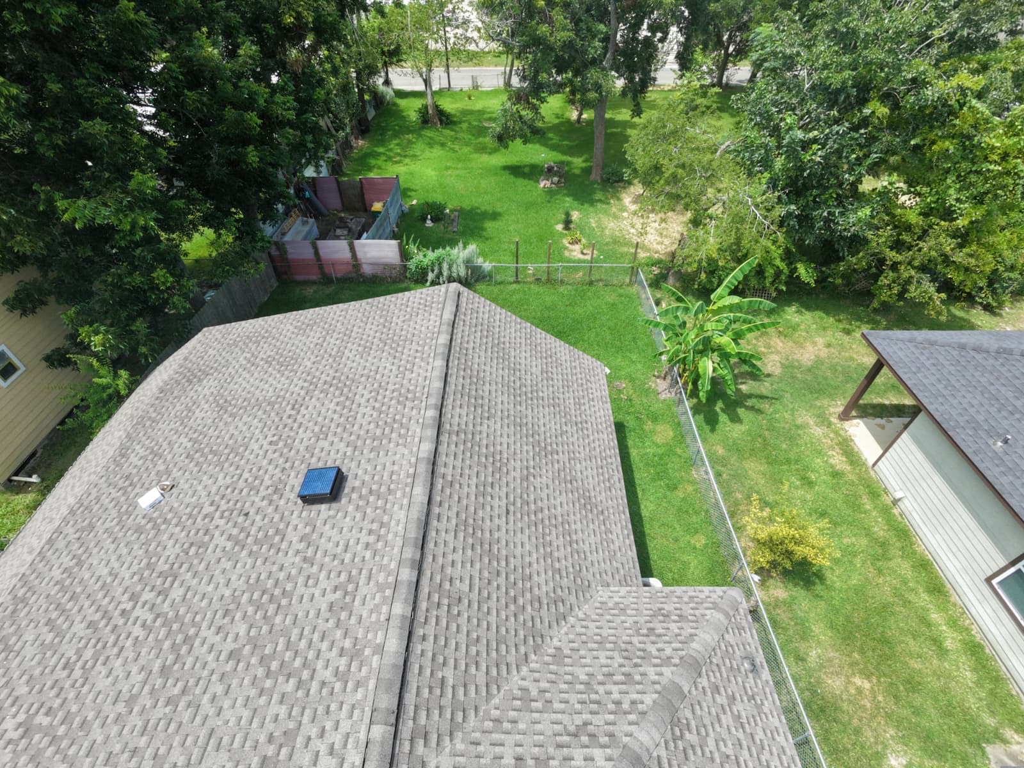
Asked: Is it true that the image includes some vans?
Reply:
No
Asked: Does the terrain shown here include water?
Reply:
No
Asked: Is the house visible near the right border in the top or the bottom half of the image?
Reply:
bottom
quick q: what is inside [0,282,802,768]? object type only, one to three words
house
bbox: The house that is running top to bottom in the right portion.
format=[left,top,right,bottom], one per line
[843,330,1024,705]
